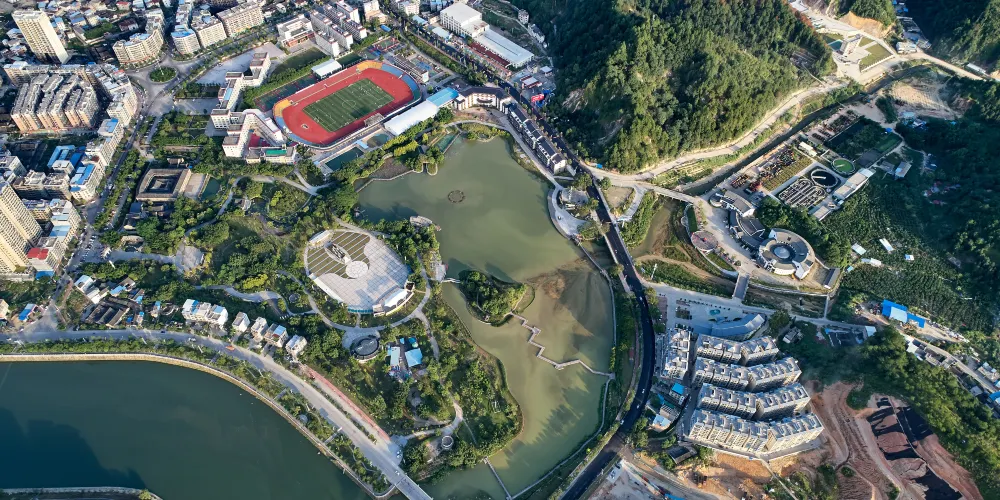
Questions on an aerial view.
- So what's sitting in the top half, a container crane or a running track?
running track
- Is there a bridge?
Yes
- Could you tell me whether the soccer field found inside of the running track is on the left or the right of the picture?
left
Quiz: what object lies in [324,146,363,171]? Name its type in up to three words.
swimming pool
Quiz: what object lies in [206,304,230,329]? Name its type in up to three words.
house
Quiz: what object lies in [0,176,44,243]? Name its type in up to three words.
building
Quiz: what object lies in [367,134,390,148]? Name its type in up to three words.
swimming pool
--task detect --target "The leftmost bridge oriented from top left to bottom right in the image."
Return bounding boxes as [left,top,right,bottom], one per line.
[389,460,447,500]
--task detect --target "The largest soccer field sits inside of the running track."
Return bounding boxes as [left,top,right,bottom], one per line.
[303,79,396,131]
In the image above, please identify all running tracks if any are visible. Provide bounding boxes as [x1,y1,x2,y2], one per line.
[271,57,420,152]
